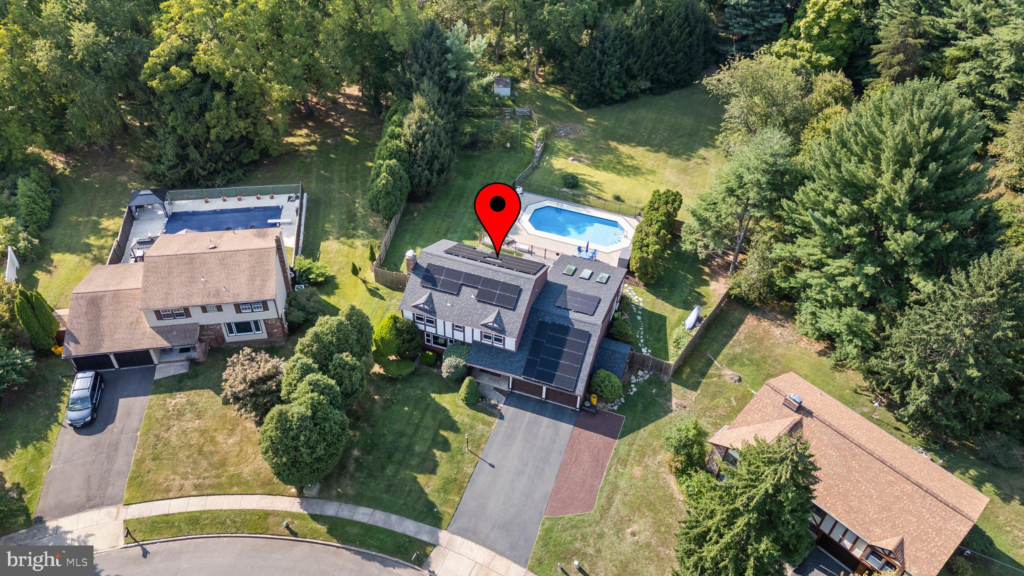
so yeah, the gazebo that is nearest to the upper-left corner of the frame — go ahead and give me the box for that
[126,184,178,222]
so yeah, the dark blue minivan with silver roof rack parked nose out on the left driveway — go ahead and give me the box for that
[64,371,106,431]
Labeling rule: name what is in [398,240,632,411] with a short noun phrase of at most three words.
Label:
house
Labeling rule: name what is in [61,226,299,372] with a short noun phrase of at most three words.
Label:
house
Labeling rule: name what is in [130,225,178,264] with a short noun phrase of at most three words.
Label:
gazebo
